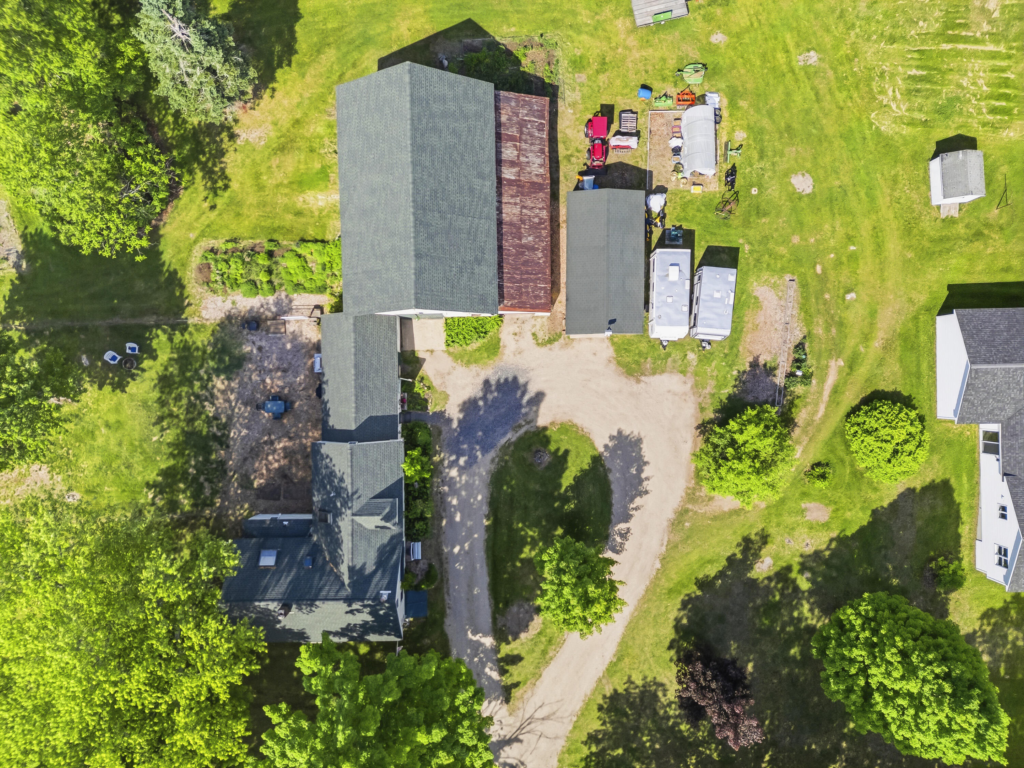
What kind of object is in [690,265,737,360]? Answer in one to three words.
vehicle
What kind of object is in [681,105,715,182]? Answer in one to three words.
building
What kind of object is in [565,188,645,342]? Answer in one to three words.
building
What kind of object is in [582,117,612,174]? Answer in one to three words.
work vehicle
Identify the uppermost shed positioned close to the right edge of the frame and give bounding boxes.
[929,149,986,206]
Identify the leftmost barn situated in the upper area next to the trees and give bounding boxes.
[335,61,551,324]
